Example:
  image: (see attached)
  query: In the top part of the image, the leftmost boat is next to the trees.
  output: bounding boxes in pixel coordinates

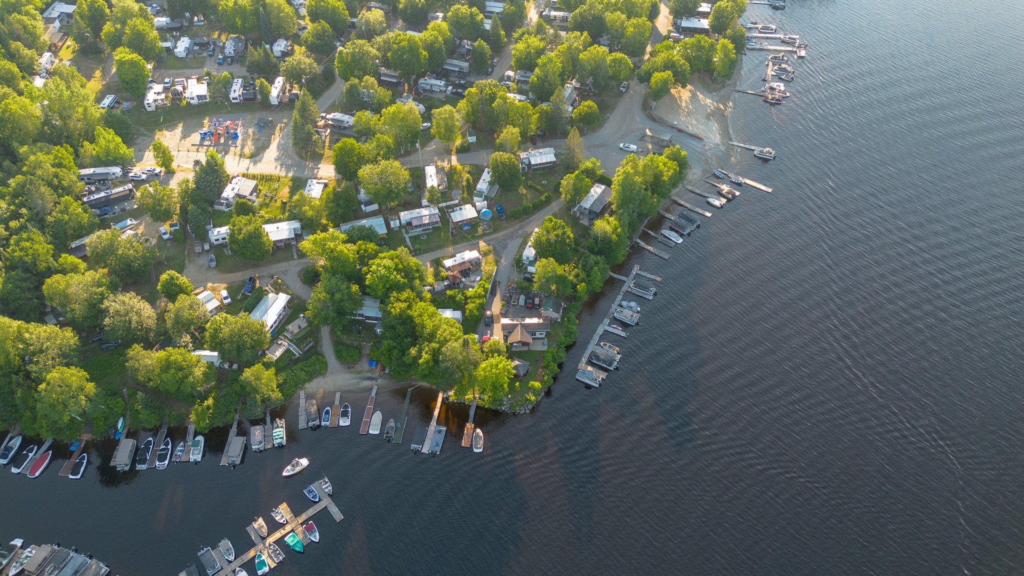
[110,217,134,229]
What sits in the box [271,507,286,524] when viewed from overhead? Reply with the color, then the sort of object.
white boat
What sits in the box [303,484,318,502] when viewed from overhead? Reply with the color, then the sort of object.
blue boat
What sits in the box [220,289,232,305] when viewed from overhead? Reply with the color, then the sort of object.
white vehicle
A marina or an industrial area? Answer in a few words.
marina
